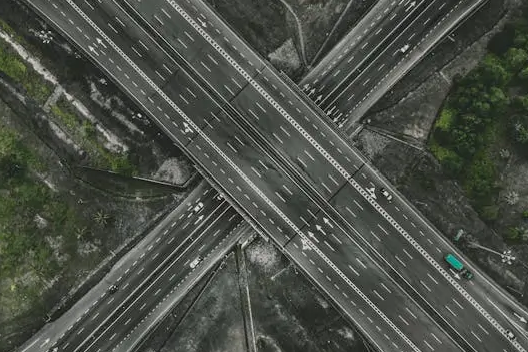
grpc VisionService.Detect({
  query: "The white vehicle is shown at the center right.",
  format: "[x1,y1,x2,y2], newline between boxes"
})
[379,186,394,201]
